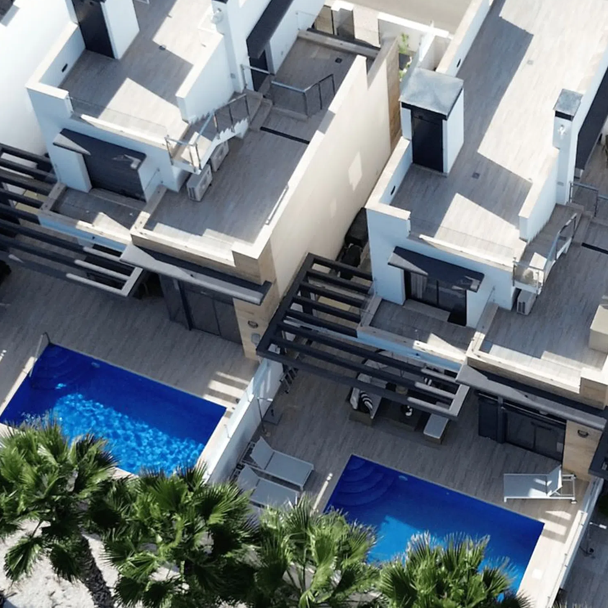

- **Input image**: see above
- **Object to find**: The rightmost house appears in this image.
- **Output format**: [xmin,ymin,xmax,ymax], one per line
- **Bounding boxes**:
[357,0,608,475]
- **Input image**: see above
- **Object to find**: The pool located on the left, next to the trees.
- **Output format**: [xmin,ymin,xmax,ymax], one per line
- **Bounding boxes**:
[0,339,223,481]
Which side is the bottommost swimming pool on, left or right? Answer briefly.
right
